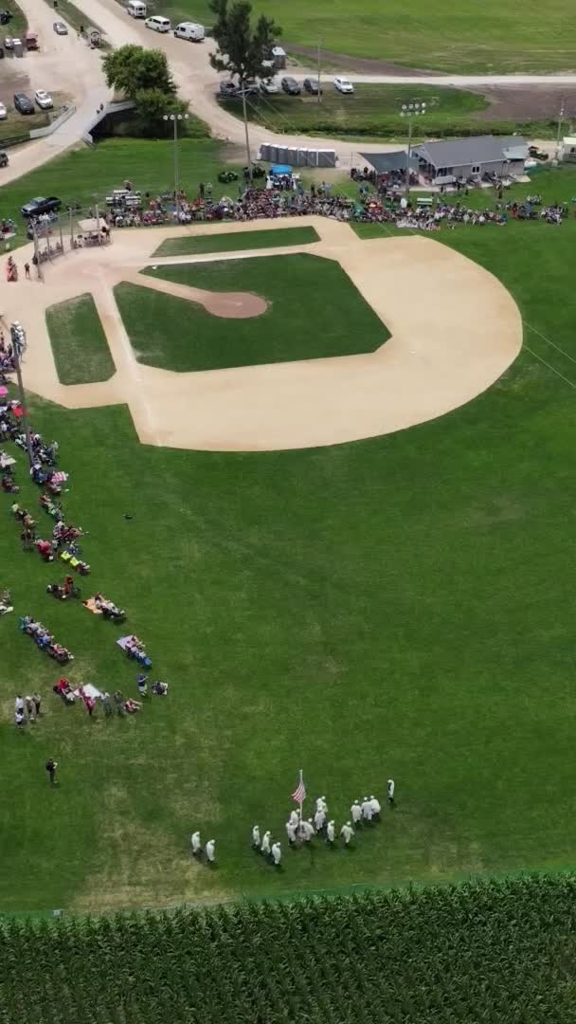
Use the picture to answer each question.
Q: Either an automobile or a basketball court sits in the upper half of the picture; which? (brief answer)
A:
automobile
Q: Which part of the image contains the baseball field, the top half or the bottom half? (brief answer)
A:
top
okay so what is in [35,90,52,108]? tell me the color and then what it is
white car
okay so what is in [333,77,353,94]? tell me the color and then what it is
white car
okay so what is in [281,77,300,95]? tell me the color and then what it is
gray car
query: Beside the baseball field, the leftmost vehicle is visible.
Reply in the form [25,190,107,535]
[17,195,65,218]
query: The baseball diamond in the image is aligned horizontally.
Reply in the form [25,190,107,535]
[0,216,524,450]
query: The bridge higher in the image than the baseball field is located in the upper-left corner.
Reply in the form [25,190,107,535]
[30,106,141,149]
